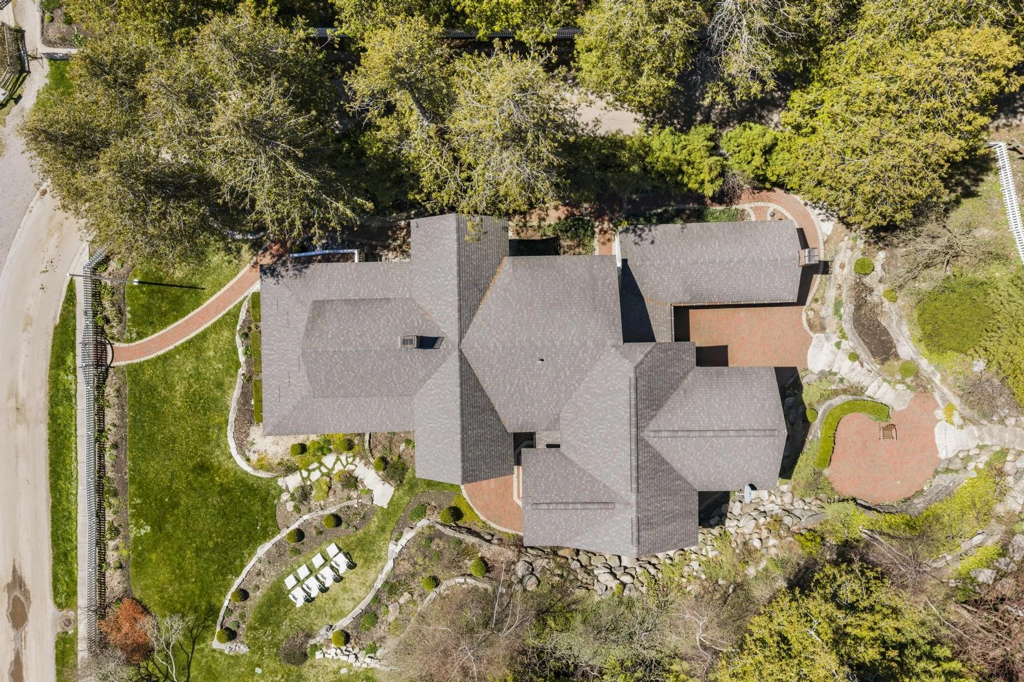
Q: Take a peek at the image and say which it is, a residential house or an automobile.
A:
residential house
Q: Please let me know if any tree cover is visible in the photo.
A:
Yes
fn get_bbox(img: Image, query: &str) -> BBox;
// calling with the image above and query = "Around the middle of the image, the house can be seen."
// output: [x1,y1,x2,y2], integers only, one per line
[259,214,819,557]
